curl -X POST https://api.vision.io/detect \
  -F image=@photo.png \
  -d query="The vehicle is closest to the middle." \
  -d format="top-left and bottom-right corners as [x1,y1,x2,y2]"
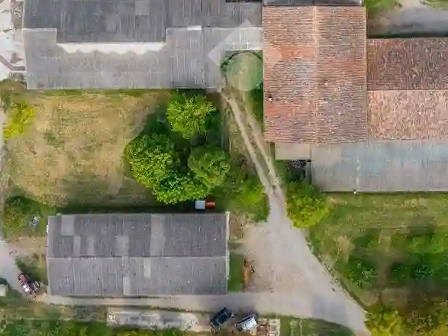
[194,200,214,212]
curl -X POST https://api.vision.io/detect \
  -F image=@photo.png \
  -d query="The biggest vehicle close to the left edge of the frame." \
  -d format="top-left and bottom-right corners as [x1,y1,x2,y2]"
[15,272,37,298]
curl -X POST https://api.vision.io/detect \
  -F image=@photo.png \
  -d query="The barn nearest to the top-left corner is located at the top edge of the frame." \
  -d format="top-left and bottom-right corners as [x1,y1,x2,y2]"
[23,0,226,92]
